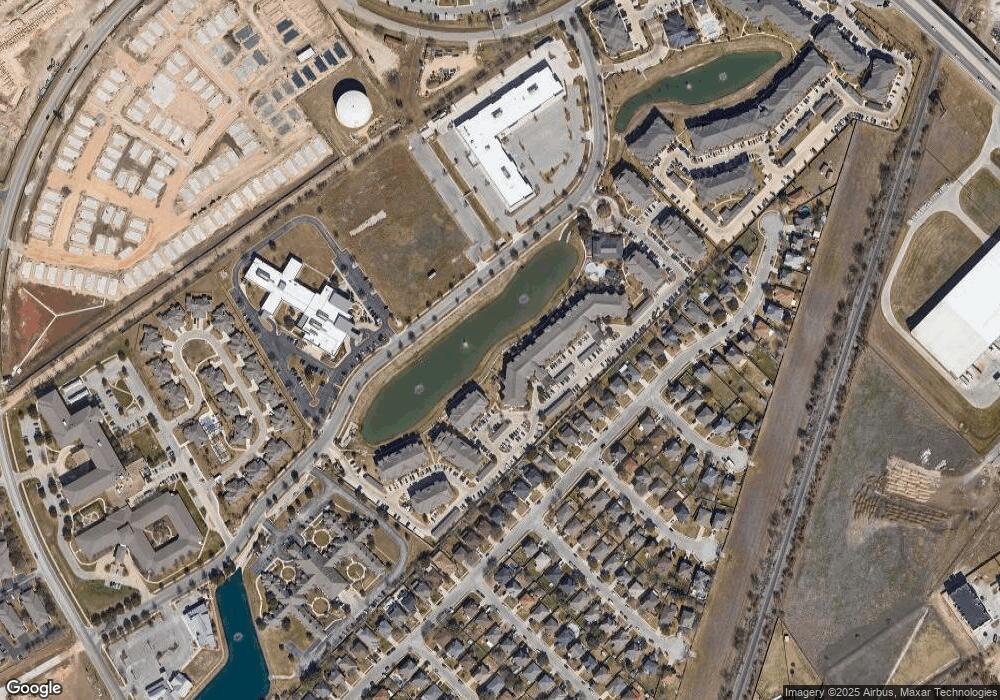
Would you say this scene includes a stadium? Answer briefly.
No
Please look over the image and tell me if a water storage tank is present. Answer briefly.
Yes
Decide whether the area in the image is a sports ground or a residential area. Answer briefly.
residential area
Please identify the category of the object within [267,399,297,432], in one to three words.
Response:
house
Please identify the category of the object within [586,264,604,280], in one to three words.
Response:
swimming pool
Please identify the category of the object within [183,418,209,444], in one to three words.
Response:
building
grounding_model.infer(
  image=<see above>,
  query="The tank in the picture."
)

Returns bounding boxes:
[335,90,372,127]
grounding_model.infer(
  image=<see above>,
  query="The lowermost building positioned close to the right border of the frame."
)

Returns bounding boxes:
[949,583,992,630]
